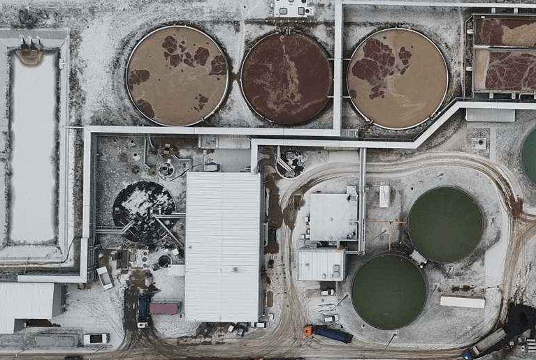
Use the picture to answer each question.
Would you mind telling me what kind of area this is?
industrial area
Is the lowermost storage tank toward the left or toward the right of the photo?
right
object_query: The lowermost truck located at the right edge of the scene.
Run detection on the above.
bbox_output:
[463,327,510,360]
